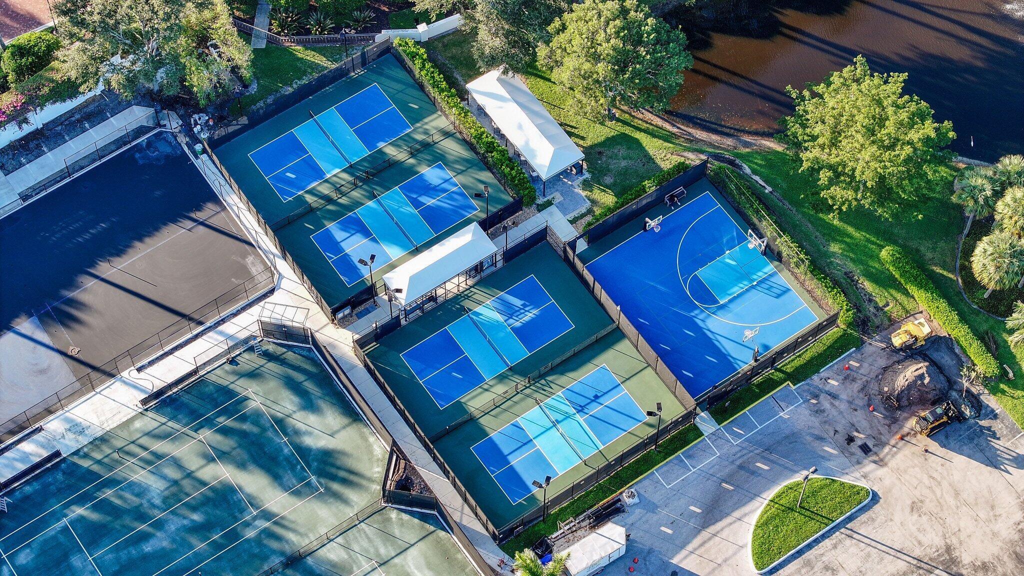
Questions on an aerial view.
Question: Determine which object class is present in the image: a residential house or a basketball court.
basketball court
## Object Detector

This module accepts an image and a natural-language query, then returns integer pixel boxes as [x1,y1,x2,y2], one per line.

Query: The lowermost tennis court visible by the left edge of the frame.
[0,336,389,576]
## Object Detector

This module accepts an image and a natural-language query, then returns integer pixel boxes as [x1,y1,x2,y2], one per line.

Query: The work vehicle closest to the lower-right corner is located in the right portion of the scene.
[912,403,964,442]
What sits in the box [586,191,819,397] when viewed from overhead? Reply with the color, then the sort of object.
blue basketball court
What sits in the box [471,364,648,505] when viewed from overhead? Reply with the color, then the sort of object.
blue sports court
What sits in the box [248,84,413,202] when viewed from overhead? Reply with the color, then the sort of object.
blue sports court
